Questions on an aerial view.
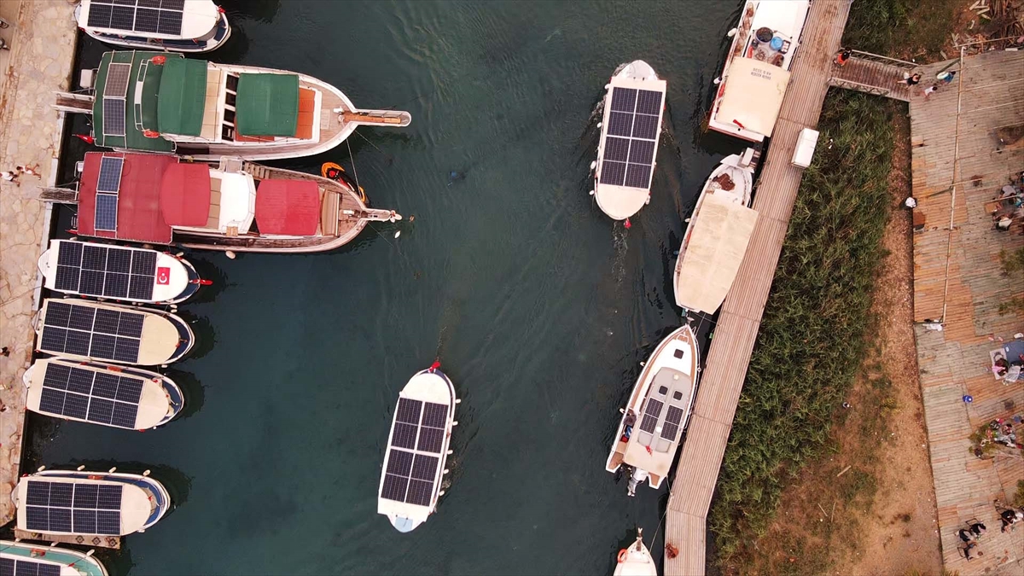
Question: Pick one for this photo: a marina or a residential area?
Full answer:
This image shows a marina.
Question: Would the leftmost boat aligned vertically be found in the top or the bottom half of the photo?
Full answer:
The bottom half of the photo is where the leftmost boat aligned vertically is.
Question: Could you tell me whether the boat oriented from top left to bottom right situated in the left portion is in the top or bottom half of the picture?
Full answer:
It is in the top half that the boat oriented from top left to bottom right situated in the left portion appears.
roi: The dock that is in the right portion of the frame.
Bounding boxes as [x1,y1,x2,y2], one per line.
[664,0,852,576]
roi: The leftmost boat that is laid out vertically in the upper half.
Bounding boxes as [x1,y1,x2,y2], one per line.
[584,60,665,237]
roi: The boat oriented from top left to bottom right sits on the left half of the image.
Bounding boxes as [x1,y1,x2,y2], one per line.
[332,167,374,206]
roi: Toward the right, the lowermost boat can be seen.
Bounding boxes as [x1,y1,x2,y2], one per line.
[614,524,658,576]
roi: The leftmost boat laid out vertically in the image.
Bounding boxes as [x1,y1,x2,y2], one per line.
[378,354,461,535]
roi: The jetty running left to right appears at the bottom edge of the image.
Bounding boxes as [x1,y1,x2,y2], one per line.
[14,528,121,549]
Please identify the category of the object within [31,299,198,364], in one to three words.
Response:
boat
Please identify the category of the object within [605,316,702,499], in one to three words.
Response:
boat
